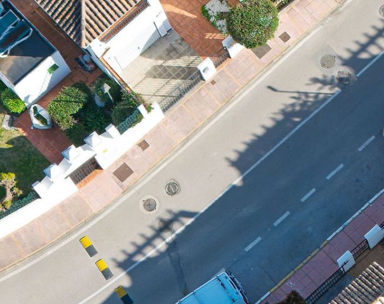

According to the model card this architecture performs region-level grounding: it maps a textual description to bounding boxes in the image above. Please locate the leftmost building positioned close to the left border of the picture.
[0,1,70,104]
